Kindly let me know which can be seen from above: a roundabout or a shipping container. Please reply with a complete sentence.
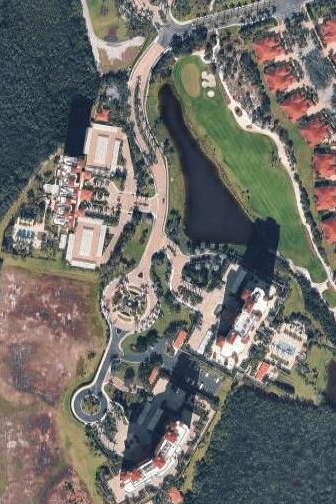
Of the two, only a roundabout appears.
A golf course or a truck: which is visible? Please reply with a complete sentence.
This aerial view contains a golf course.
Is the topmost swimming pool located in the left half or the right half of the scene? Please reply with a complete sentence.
The topmost swimming pool appears in the left half of the scene.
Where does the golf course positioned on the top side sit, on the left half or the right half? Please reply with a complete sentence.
The golf course positioned on the top side appears in the right half of the scene.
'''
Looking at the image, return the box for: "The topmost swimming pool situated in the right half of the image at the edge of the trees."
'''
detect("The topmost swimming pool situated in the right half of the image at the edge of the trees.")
[267,323,306,367]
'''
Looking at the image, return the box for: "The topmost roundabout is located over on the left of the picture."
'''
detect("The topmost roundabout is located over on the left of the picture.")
[102,273,157,330]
